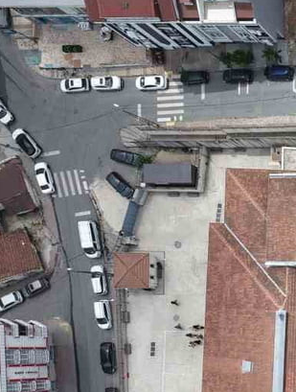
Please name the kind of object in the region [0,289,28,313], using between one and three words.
car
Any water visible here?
No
